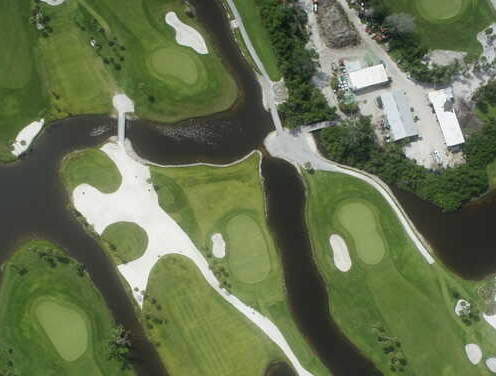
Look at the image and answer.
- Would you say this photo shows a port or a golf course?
golf course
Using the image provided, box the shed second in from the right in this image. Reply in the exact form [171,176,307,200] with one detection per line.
[380,89,417,142]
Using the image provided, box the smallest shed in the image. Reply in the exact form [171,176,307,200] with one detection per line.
[349,63,388,91]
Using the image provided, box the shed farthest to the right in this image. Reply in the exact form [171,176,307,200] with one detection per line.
[427,87,464,147]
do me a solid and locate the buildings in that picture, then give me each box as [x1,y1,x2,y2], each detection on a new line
[427,87,464,147]
[380,89,417,142]
[349,63,388,91]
